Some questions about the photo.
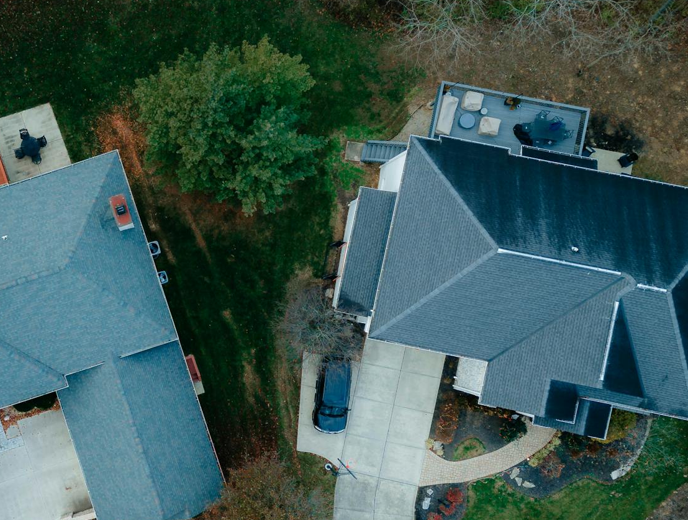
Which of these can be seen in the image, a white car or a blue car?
blue car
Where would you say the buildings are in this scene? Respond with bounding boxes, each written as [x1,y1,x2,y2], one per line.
[324,133,688,441]
[0,148,228,520]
